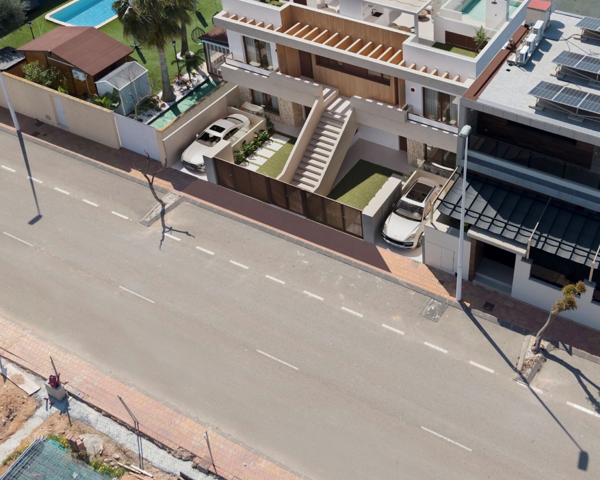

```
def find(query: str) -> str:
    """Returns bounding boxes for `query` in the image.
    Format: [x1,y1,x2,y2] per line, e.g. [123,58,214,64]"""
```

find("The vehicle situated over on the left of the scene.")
[184,111,257,170]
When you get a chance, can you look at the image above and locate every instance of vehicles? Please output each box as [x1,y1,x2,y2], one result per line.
[184,111,257,170]
[386,169,456,246]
